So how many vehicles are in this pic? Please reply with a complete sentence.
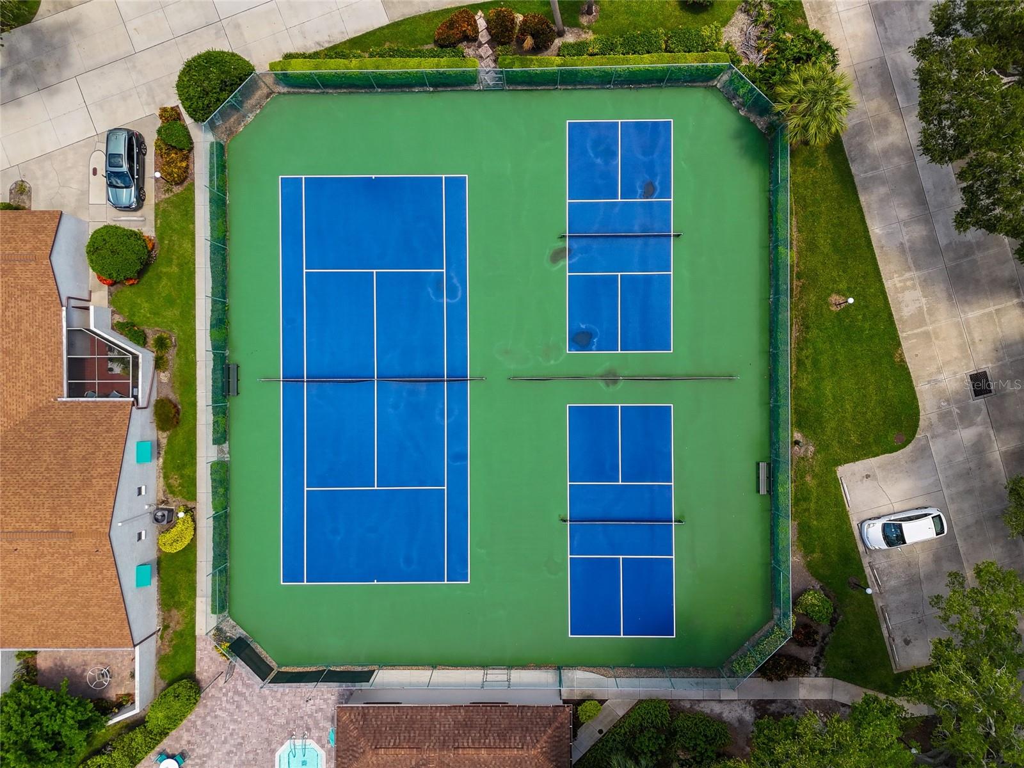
Altogether the scene contains 2 vehicles.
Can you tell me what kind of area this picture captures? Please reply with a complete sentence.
This looks like a sports ground.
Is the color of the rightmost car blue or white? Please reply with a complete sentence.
The rightmost car is white.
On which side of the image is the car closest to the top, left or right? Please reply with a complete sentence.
You can find the car closest to the top on the left side of the picture.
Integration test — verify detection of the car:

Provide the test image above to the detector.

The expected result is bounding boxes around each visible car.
[861,505,948,552]
[97,127,144,211]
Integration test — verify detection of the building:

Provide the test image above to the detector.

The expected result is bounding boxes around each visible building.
[0,211,160,648]
[333,687,574,768]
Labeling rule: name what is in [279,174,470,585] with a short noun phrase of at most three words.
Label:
tennis court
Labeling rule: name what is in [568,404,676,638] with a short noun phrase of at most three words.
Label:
sports court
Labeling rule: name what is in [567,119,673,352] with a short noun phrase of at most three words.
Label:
sports court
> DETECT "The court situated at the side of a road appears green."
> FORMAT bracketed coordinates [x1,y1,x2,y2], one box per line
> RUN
[227,86,771,667]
